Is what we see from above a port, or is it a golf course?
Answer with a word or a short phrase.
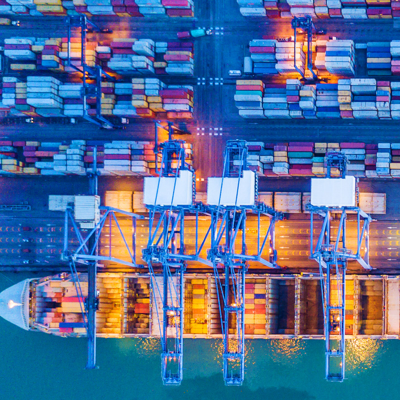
port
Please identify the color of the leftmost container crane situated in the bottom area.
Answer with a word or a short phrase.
blue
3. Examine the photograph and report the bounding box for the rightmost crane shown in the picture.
[309,153,382,382]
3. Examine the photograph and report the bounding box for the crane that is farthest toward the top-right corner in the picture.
[292,12,325,82]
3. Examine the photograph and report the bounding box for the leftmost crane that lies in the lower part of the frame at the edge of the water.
[54,145,154,366]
